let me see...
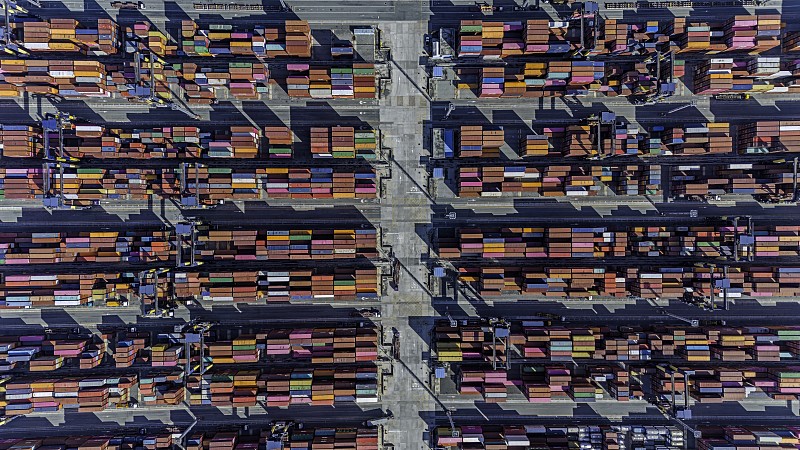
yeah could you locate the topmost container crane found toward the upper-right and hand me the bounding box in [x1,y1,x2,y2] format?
[564,0,599,61]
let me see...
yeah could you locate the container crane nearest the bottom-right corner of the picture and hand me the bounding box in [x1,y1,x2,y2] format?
[649,364,691,422]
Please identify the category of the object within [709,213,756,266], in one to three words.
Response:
container crane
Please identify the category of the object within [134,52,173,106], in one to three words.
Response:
container crane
